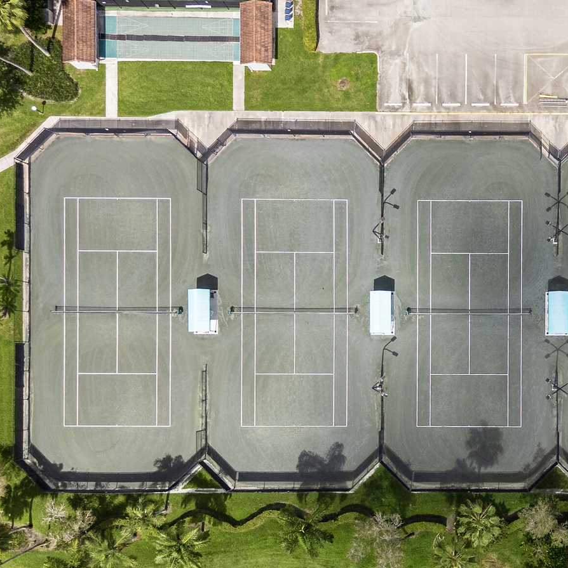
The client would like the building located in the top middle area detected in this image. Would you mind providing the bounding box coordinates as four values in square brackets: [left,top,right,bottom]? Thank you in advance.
[239,0,276,69]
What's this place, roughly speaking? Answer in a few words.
sports ground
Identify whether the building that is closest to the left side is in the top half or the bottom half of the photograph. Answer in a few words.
top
